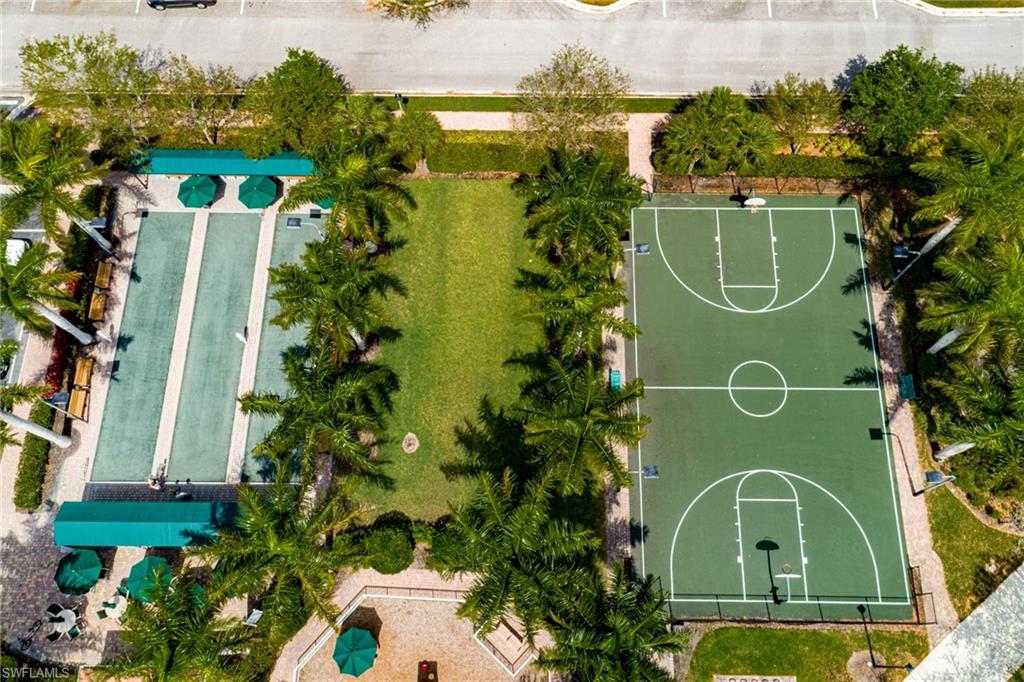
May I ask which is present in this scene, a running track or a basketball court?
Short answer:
basketball court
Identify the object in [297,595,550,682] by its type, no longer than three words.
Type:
playground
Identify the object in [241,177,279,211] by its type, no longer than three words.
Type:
umbrella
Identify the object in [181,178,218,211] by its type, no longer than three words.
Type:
umbrella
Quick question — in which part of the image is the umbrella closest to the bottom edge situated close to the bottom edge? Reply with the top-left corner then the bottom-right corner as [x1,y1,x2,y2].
[331,625,381,677]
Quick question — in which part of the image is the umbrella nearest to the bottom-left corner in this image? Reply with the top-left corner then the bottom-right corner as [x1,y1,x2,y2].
[58,548,107,598]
